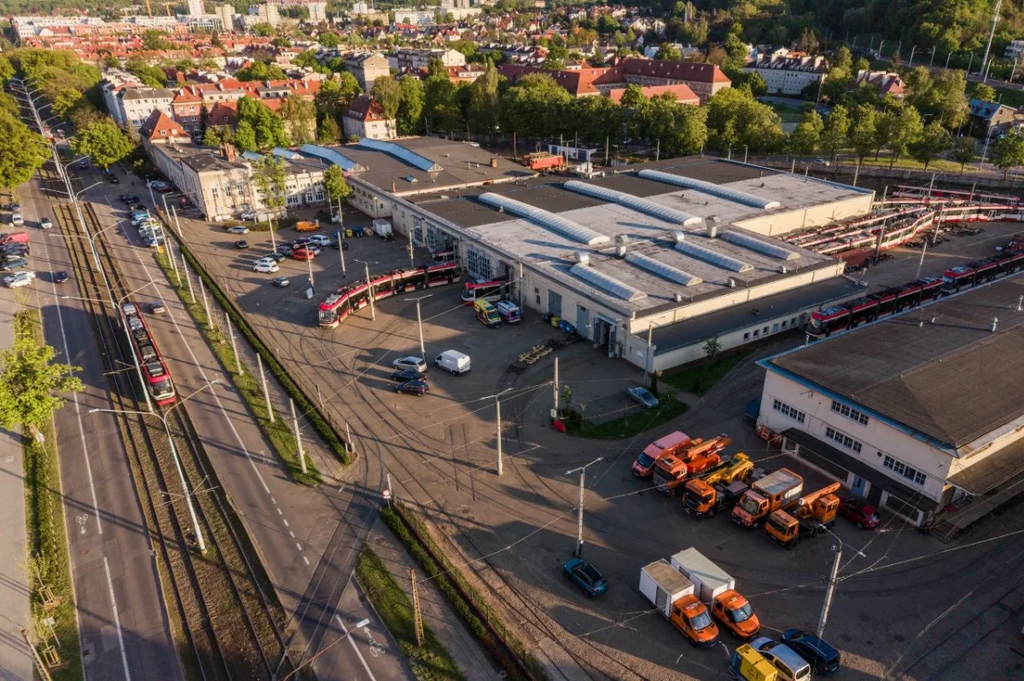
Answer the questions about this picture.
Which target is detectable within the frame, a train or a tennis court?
train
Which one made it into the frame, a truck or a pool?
truck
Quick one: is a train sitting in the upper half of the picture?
Yes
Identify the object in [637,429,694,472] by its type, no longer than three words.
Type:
van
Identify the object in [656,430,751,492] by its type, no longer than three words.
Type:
truck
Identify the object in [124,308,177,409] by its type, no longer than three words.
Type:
train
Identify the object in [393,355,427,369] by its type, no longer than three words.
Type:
car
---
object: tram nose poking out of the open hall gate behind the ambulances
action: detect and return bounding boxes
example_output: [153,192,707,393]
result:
[464,272,499,303]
